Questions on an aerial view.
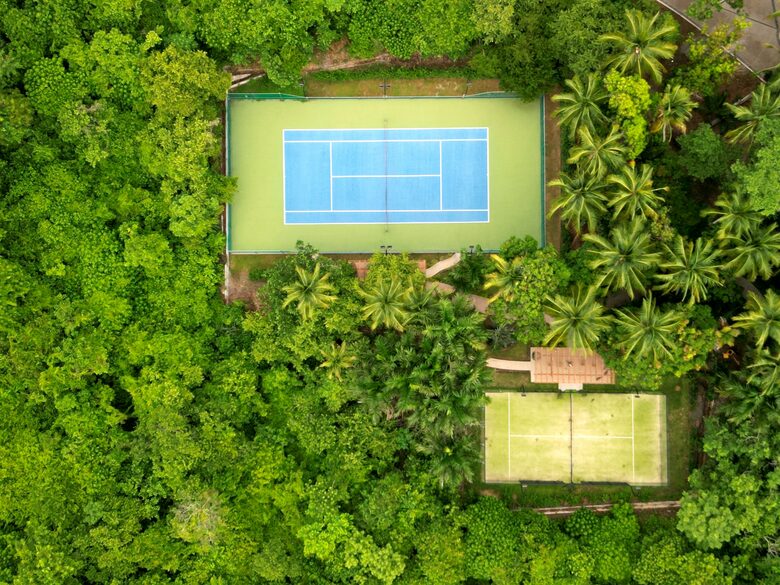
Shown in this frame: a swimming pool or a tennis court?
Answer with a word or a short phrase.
tennis court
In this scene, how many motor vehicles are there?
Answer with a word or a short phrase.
0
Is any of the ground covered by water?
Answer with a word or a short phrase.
No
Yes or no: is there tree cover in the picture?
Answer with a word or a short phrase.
Yes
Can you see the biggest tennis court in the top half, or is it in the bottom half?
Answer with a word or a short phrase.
top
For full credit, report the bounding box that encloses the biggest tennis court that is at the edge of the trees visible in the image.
[231,97,542,252]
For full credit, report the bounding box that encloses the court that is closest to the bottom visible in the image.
[484,390,661,484]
